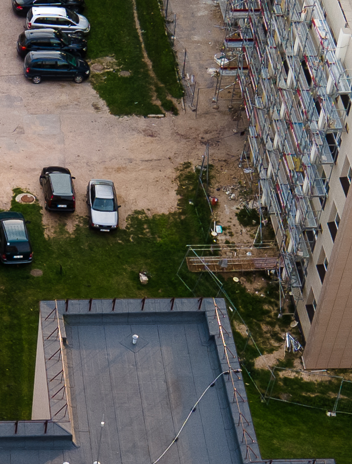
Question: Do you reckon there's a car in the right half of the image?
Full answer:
No, I can find no car in the right half of the image.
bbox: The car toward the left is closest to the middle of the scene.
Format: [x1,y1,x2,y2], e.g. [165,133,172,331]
[79,164,122,226]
